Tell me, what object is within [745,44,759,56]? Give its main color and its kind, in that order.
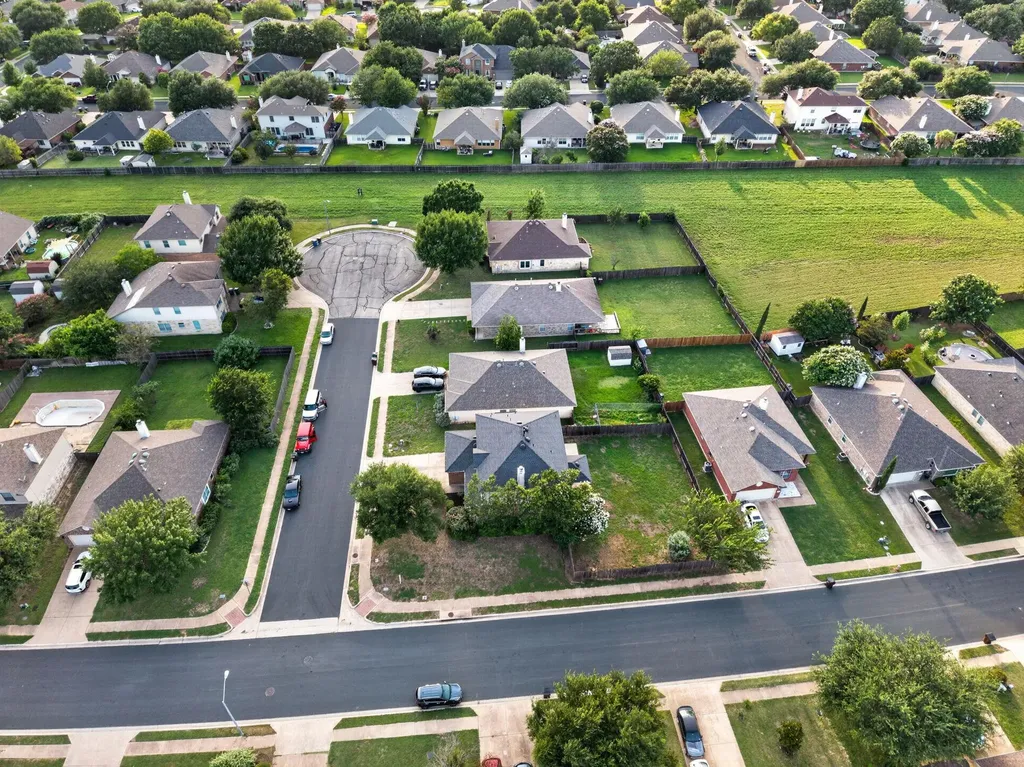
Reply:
white vehicle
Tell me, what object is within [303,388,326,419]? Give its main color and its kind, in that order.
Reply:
white car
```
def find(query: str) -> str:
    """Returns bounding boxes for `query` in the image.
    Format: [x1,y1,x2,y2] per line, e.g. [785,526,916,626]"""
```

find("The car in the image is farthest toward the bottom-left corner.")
[65,555,92,592]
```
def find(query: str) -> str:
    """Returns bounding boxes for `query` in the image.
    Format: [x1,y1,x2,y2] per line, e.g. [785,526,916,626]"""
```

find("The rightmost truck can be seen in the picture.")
[909,488,953,530]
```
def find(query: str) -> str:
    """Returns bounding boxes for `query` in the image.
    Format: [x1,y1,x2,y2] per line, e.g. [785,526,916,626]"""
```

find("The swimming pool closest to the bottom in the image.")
[36,399,103,430]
